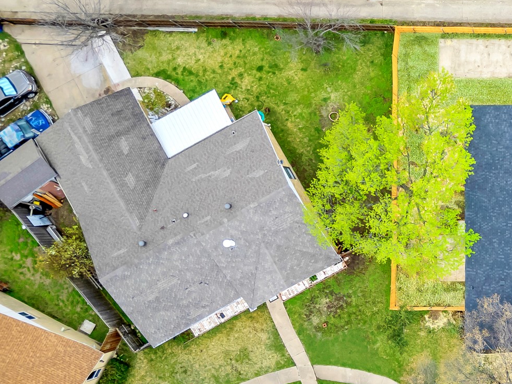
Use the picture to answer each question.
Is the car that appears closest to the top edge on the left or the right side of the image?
left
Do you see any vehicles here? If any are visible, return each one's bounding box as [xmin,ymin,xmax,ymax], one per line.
[0,69,43,118]
[0,107,55,157]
